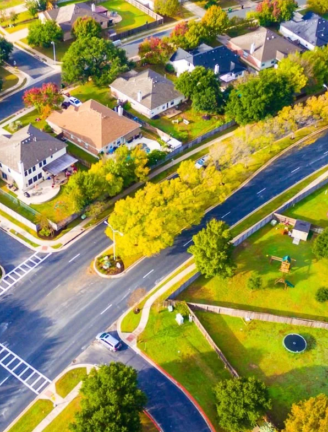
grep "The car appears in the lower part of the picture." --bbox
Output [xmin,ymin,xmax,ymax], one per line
[95,331,122,351]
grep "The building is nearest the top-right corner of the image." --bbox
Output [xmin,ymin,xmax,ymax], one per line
[281,13,328,55]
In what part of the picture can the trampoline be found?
bottom right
